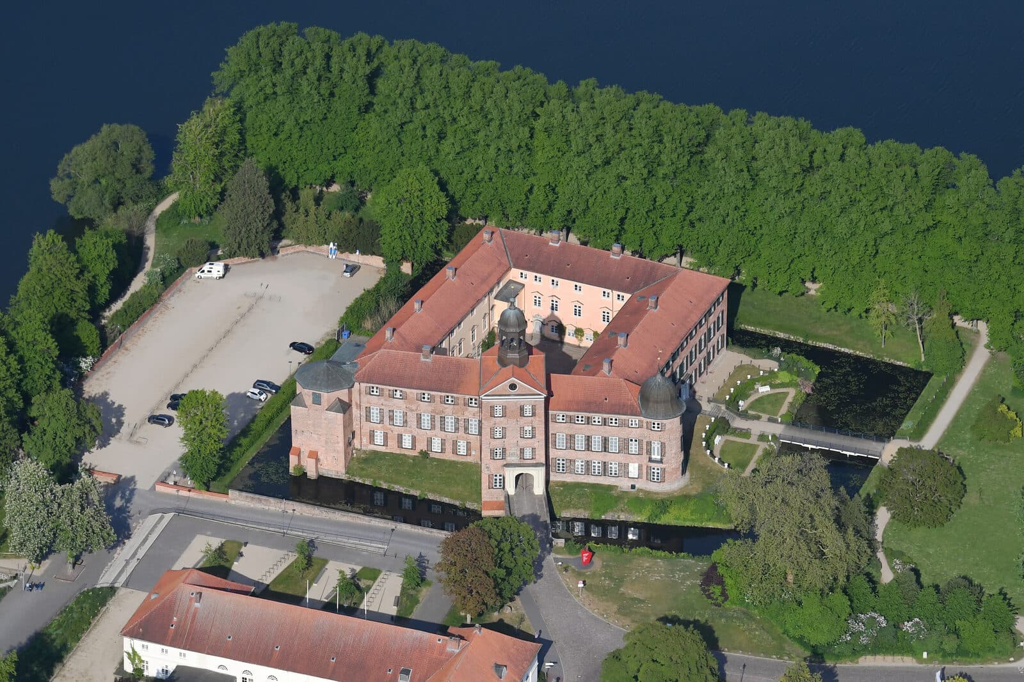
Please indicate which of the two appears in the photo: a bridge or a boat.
bridge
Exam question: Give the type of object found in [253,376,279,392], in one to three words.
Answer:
car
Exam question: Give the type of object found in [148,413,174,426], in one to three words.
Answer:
vehicle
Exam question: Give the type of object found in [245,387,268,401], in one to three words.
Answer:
car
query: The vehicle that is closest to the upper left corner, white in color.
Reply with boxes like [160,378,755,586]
[197,262,227,279]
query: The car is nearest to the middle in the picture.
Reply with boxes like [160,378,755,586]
[341,260,361,276]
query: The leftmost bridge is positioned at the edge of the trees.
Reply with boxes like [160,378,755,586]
[506,491,552,559]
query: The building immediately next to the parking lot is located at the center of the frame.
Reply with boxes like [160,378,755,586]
[289,226,731,510]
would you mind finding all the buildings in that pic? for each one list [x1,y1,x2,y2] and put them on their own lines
[120,567,546,682]
[289,226,731,510]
